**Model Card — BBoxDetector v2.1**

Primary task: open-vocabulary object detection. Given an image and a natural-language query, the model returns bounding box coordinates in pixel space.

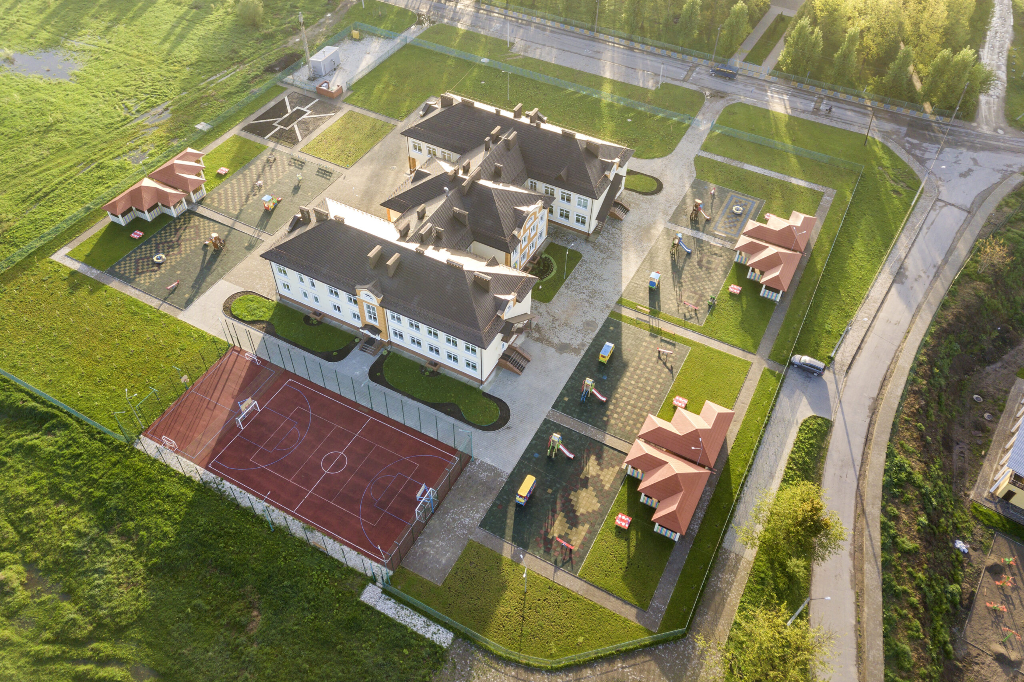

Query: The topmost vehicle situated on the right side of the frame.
[707,62,739,80]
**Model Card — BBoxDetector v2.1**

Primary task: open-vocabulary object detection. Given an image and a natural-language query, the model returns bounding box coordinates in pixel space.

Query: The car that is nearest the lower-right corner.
[790,352,829,376]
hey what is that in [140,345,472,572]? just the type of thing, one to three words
sports court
